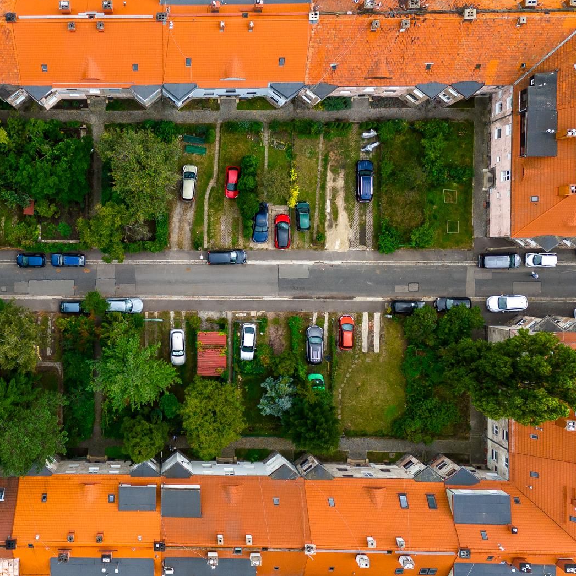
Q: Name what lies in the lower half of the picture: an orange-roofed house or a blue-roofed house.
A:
orange-roofed house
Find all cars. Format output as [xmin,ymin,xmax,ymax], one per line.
[308,373,326,398]
[295,201,311,231]
[181,164,197,201]
[224,165,241,199]
[104,297,142,314]
[306,324,324,364]
[476,253,520,269]
[390,299,424,314]
[169,328,186,365]
[484,294,527,312]
[252,201,268,244]
[523,252,557,268]
[238,322,255,360]
[434,296,472,313]
[17,252,46,267]
[59,299,91,314]
[52,253,86,267]
[355,159,375,202]
[274,214,290,249]
[339,314,355,350]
